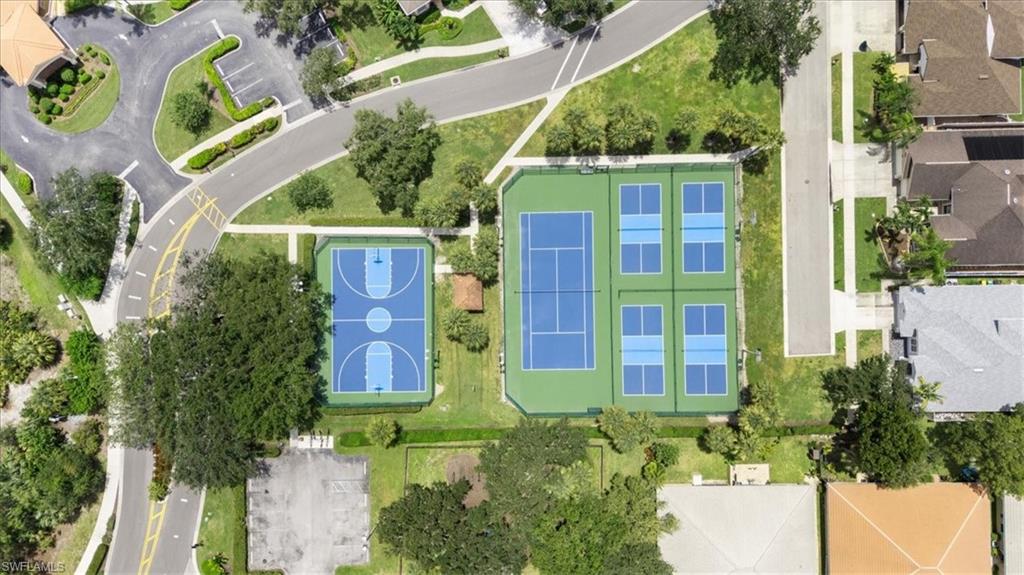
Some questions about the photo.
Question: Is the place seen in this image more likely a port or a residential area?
residential area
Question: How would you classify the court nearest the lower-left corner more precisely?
basketball court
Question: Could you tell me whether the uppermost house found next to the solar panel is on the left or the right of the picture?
right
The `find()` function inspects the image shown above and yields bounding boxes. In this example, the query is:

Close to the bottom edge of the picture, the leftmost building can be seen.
[657,484,818,575]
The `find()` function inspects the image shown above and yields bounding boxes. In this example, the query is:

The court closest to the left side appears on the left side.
[316,239,434,404]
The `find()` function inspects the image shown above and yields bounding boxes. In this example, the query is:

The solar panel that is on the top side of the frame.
[963,134,1024,160]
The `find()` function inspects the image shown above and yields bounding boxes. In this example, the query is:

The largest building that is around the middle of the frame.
[454,274,483,311]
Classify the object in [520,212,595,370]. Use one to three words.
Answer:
tennis court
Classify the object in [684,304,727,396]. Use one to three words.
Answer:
sports court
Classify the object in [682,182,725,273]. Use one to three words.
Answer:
sports court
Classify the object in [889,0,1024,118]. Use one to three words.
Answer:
house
